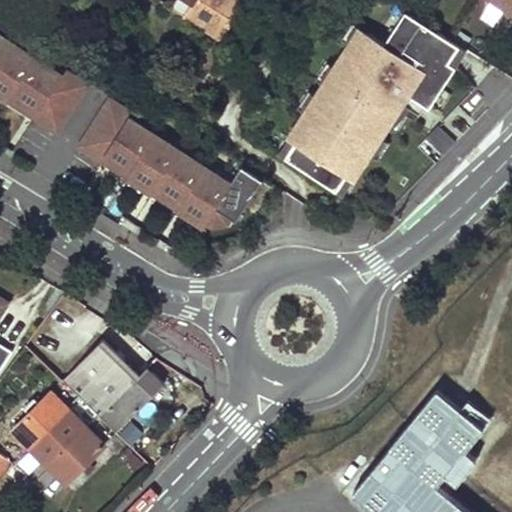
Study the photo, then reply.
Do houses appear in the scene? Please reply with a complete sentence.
Yes, a house can be made out from above.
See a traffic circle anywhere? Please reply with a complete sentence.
Yes, looking at the shot, I can spot a traffic circle.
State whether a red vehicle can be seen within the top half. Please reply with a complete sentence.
No, within the top half there is no red vehicle.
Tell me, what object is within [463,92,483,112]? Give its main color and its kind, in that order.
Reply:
white car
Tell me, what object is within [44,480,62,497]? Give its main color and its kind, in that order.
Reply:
white car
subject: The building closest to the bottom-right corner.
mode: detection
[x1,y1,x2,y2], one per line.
[352,394,481,512]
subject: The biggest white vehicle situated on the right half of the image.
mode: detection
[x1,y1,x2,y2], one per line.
[340,456,367,484]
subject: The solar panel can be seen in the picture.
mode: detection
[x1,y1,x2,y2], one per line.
[12,422,38,448]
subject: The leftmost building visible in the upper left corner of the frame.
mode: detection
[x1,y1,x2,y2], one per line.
[0,35,88,135]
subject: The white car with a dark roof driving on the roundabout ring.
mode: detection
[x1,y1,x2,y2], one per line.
[218,326,237,346]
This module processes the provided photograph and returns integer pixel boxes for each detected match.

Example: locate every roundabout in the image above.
[162,240,392,442]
